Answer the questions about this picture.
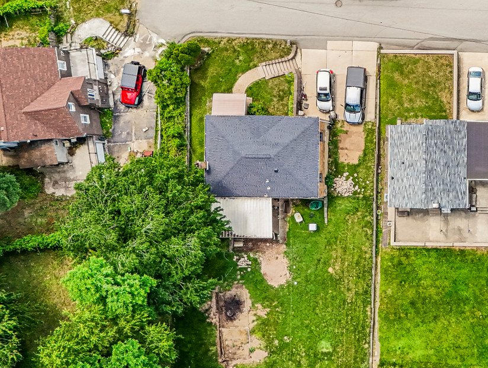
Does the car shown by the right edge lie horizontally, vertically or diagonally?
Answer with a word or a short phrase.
vertically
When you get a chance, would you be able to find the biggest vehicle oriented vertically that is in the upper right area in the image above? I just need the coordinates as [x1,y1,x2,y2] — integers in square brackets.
[342,65,367,125]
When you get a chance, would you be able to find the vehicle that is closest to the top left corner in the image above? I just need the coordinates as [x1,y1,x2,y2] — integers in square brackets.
[117,60,146,109]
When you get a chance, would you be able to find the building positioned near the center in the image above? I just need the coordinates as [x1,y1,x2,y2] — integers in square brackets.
[186,93,327,243]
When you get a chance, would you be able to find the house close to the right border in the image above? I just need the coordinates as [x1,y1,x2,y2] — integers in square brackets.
[381,120,488,213]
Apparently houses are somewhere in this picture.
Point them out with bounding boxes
[186,93,327,243]
[0,43,108,166]
[381,120,488,213]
